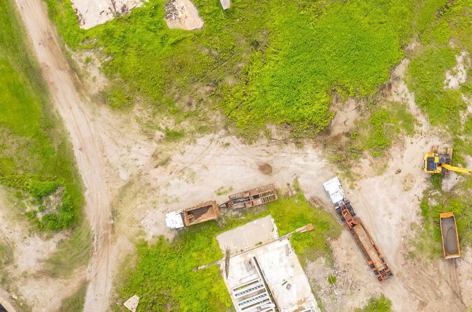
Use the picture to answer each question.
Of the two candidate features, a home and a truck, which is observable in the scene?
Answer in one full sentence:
The one in the frame is a truck.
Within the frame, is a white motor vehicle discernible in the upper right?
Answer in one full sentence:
No, no white motor vehicle can be made out in the upper right.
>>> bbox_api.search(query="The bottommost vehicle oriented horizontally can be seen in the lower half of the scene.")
[163,205,219,235]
